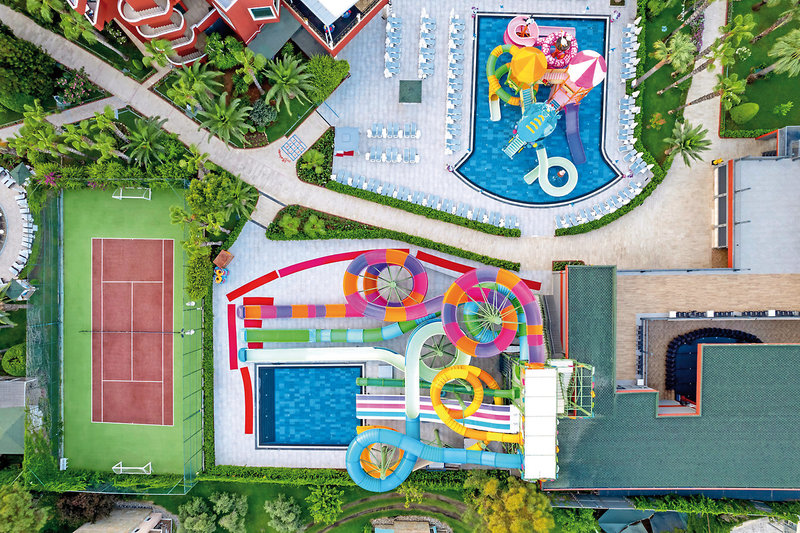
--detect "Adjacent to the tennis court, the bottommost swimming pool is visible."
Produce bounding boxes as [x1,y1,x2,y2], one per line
[255,363,363,448]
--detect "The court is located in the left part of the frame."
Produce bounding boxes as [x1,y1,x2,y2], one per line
[64,187,204,471]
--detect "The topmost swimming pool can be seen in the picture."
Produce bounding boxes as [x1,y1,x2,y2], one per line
[454,13,623,206]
